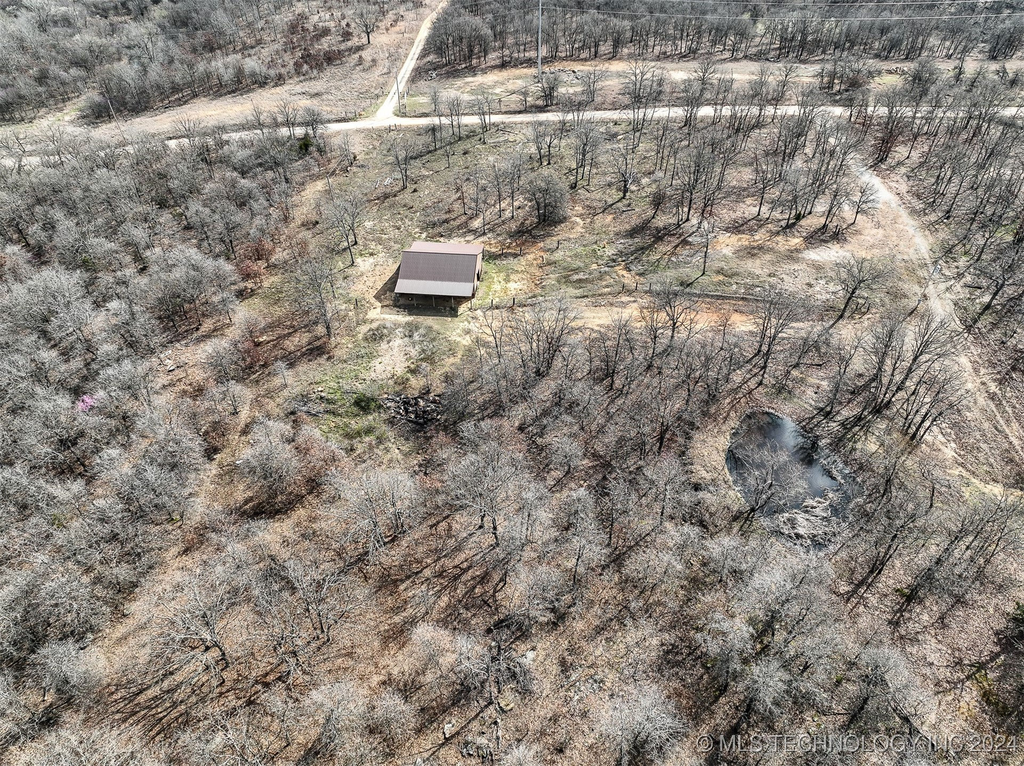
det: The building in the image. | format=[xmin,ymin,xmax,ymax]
[393,242,486,309]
